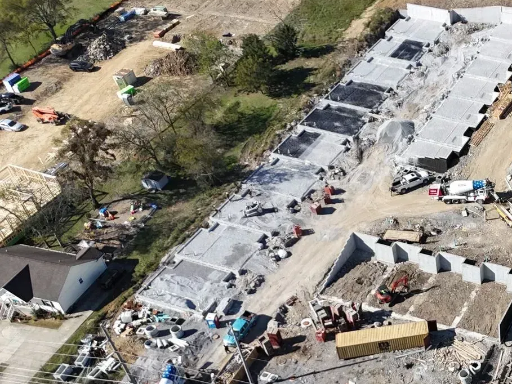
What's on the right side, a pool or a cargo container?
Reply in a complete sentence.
There is a cargo container on the right side.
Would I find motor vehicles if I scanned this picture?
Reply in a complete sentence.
Yes, a motor vehicle can be made out from above.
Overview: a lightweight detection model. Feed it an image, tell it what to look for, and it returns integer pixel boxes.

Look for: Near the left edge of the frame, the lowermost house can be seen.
[0,238,114,329]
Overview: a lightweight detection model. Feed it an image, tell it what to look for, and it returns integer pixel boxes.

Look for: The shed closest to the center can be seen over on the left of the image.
[143,165,169,188]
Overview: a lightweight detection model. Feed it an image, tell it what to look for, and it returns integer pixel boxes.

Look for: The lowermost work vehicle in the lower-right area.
[373,274,411,304]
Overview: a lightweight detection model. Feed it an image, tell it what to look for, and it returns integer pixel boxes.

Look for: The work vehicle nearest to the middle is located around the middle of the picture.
[235,198,265,220]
